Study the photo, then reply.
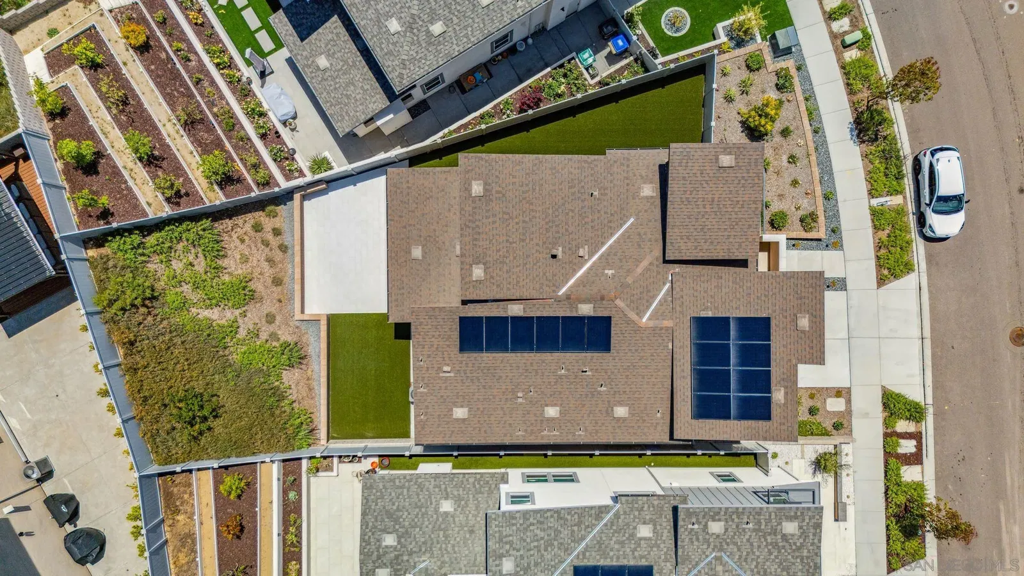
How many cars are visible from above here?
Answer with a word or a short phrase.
one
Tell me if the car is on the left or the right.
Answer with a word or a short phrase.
right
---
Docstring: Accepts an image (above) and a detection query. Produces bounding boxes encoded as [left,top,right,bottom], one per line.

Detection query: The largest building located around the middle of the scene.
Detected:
[386,143,824,446]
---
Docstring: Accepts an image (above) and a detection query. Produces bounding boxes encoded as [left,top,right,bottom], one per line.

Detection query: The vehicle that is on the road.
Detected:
[912,147,972,238]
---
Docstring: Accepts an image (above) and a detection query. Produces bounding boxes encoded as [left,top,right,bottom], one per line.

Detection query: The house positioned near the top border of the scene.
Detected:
[267,0,596,137]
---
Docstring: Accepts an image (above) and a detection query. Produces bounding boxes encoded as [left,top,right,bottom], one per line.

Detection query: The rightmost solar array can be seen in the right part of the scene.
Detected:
[691,317,771,420]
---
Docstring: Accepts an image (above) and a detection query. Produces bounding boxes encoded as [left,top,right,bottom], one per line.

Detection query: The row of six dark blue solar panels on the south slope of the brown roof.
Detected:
[459,316,611,352]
